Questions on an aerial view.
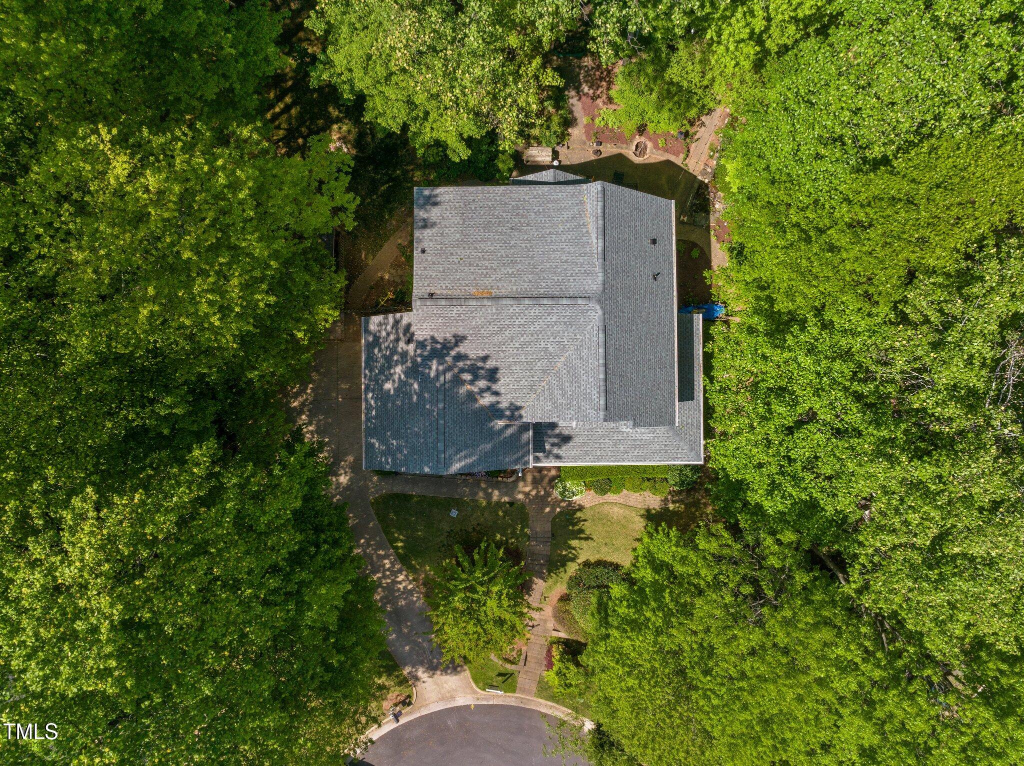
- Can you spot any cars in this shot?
No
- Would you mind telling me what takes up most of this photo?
trees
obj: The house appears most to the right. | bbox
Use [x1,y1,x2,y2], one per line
[359,169,706,476]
